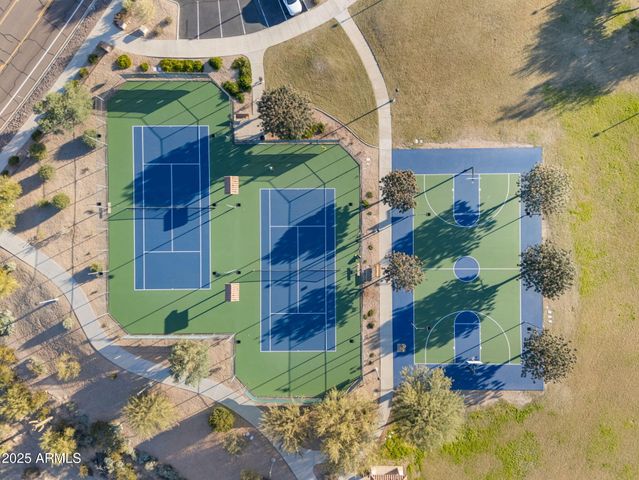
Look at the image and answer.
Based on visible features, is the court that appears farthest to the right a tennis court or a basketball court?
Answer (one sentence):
The court that appears farthest to the right in the image is a basketball court.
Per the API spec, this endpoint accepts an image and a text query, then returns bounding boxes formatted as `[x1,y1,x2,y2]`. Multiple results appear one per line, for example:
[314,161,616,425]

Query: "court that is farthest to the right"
[393,148,544,392]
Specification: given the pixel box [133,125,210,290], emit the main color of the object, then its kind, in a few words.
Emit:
blue tennis court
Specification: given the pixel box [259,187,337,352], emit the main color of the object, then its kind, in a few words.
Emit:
blue tennis court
